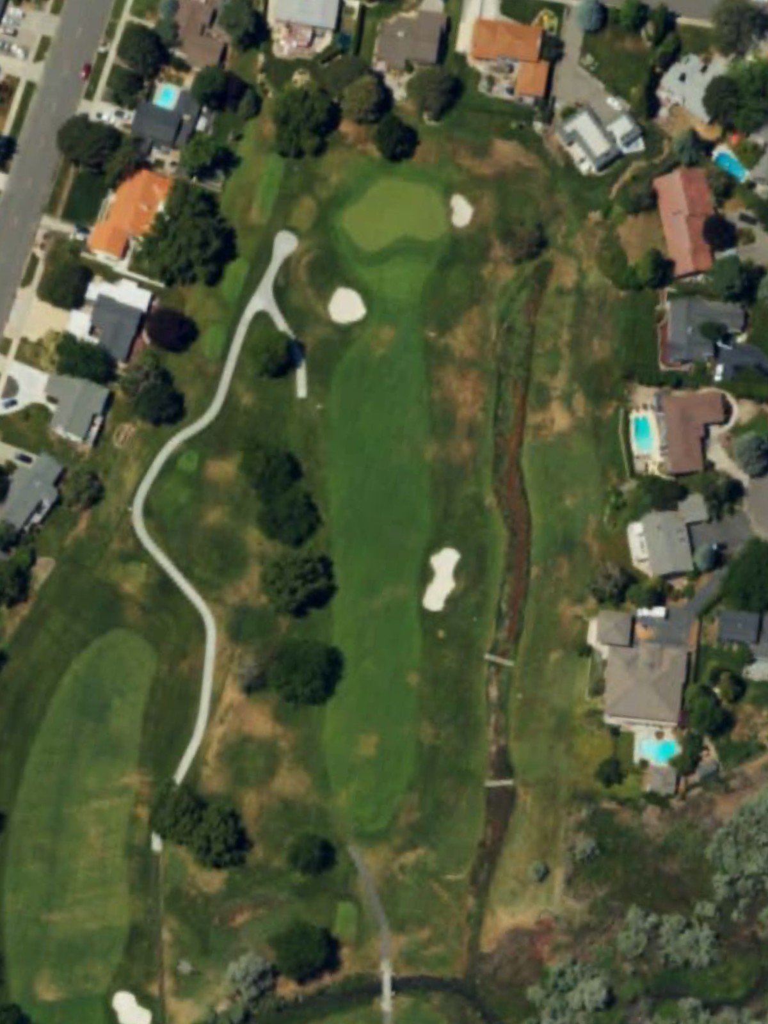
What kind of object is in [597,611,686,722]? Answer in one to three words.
house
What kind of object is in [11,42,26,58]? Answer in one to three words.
vehicle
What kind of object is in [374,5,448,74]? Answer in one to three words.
house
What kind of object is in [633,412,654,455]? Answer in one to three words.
swimming pool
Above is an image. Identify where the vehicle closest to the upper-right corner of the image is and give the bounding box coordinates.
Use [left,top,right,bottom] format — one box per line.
[607,95,621,109]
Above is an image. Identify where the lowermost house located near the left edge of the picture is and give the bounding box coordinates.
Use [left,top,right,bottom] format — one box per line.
[0,446,72,535]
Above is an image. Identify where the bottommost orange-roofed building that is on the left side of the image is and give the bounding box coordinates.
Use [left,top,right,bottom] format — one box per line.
[89,169,175,257]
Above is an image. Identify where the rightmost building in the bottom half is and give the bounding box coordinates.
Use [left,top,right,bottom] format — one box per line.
[719,612,768,654]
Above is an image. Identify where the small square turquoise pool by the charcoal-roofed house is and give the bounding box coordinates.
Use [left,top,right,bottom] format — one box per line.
[156,83,176,111]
